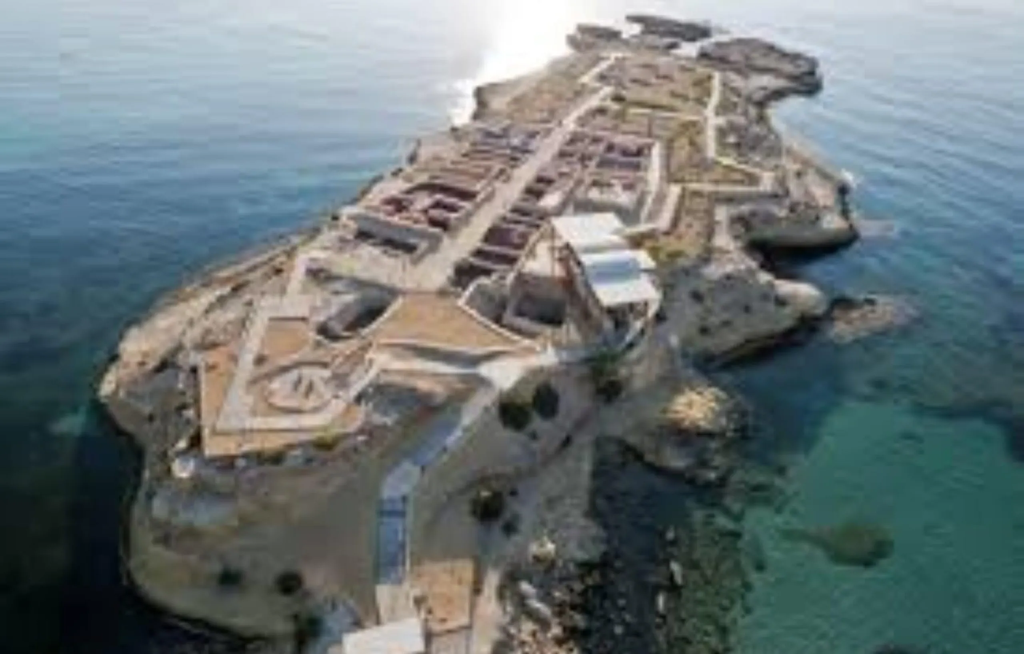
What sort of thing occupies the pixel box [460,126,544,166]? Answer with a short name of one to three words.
building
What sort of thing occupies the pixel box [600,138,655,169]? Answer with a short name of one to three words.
building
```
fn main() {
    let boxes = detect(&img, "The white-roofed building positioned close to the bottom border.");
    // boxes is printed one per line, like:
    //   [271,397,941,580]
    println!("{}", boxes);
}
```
[341,617,425,654]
